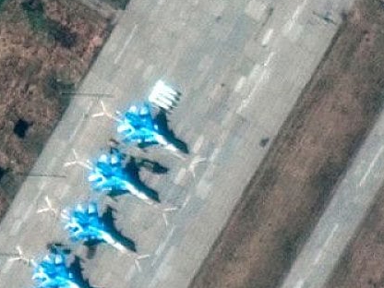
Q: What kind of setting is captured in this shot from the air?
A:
airport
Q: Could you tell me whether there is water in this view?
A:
No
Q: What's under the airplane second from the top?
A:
apron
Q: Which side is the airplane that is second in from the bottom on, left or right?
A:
left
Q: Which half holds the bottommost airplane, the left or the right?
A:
left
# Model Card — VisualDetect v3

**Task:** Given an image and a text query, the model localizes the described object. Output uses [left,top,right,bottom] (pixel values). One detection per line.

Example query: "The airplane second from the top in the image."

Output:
[84,155,149,199]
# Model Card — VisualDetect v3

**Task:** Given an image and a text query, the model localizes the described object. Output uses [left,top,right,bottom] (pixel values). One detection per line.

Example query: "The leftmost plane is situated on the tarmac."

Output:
[29,254,80,288]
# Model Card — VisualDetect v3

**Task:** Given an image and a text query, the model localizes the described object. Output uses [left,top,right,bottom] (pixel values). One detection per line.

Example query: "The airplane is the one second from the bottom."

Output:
[62,205,125,249]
